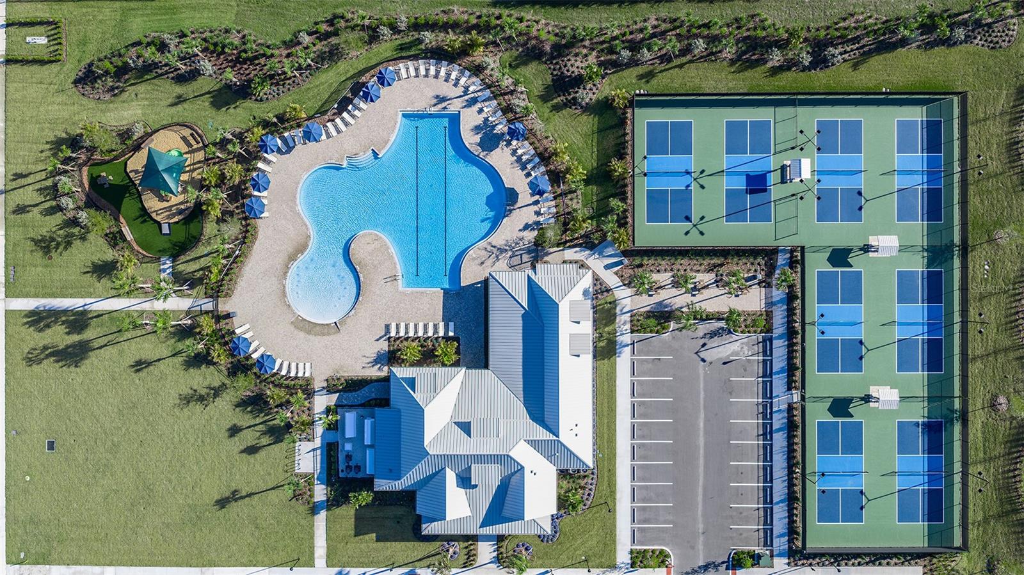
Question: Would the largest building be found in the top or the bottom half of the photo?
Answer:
bottom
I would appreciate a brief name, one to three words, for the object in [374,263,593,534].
building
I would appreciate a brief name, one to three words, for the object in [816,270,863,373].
sports court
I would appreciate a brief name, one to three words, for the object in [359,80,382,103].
umbrella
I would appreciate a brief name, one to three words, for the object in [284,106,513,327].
swimming pool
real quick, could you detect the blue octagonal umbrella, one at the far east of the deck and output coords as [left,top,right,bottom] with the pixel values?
[527,175,551,198]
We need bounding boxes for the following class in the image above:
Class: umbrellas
[527,175,551,198]
[256,132,280,156]
[230,335,252,357]
[359,80,382,103]
[504,125,528,148]
[249,170,273,194]
[254,353,277,377]
[374,66,398,90]
[301,120,324,143]
[244,195,268,218]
